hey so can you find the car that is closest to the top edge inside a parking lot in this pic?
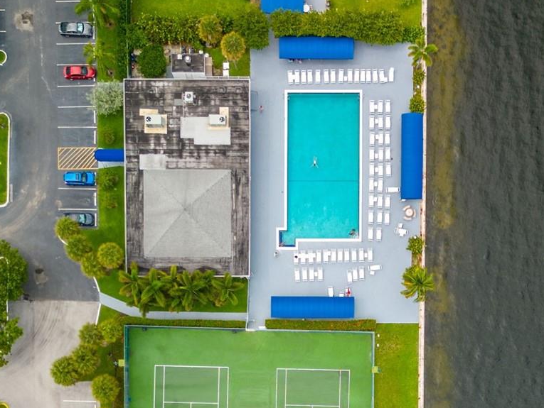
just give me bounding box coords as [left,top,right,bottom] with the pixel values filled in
[60,21,93,38]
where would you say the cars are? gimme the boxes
[63,64,97,81]
[61,213,94,227]
[64,171,97,186]
[60,21,93,38]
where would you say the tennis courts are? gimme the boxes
[275,368,351,408]
[153,365,229,408]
